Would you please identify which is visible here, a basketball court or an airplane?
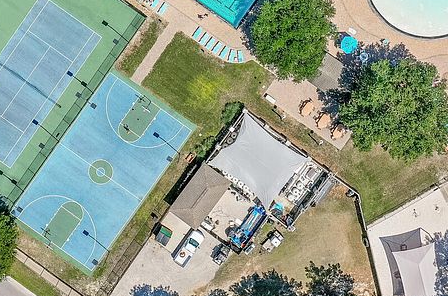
basketball court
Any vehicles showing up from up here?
Yes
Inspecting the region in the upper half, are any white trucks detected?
No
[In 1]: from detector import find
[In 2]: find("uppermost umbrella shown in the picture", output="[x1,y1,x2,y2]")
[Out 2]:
[341,37,358,52]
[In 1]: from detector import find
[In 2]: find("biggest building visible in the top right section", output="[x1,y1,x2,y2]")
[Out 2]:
[307,52,346,92]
